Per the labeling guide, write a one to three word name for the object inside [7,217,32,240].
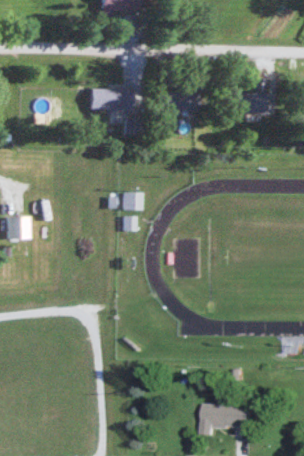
house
